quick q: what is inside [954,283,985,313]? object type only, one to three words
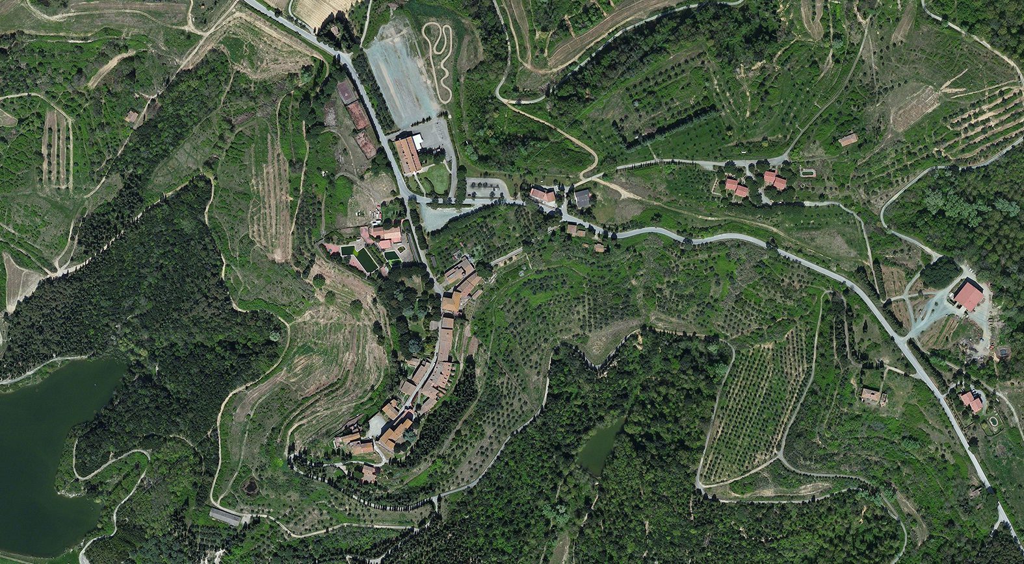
barn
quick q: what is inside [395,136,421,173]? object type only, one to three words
building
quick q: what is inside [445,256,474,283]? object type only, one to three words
house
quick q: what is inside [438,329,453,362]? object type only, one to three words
house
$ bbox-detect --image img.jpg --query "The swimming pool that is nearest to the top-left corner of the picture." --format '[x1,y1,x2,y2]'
[340,245,379,273]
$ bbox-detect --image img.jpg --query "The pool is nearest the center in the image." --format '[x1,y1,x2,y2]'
[383,250,402,267]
